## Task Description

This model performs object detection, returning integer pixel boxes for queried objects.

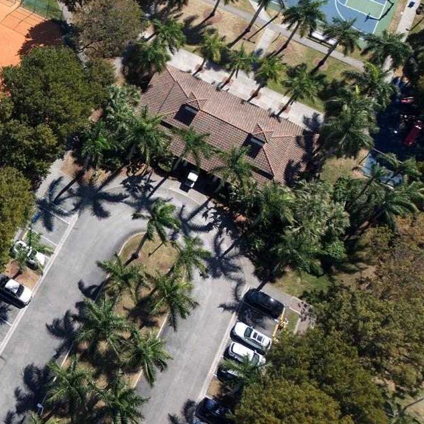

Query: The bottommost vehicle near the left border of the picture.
[0,273,31,305]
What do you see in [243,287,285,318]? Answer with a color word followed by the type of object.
black car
